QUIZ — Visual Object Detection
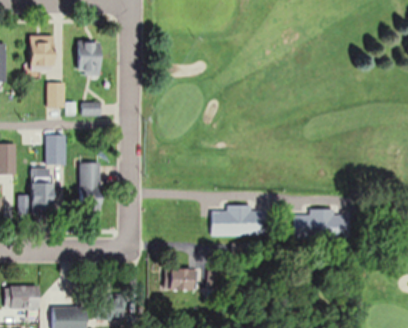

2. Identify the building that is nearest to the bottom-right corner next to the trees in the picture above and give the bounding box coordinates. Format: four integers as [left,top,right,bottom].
[284,208,348,238]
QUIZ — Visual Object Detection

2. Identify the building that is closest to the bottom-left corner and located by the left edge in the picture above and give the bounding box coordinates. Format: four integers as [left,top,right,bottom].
[4,284,42,310]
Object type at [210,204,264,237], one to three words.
building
